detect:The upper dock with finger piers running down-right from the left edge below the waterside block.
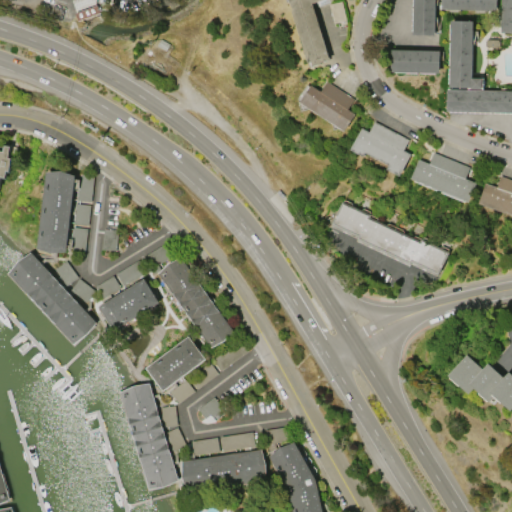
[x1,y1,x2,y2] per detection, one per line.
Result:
[0,298,72,389]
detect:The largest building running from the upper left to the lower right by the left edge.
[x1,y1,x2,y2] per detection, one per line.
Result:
[8,253,96,346]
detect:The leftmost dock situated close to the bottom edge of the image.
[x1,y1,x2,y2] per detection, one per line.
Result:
[6,390,46,512]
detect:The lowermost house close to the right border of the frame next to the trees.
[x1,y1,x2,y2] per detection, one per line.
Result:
[449,356,512,411]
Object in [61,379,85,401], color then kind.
white boat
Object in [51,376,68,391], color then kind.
white boat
